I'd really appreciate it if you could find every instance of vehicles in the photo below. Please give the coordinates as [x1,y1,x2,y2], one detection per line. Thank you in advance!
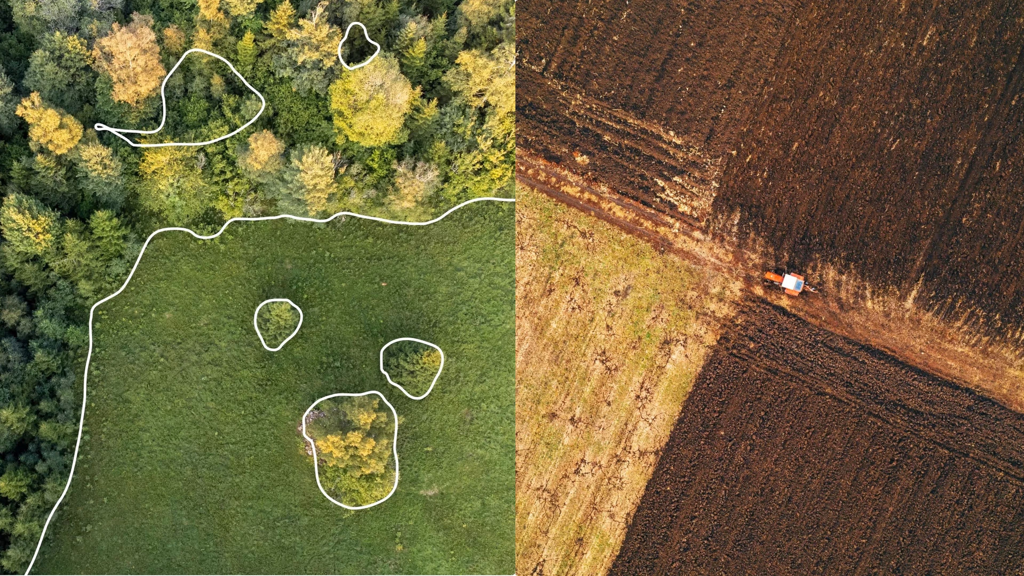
[761,271,804,298]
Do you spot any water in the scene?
No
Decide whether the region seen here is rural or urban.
rural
